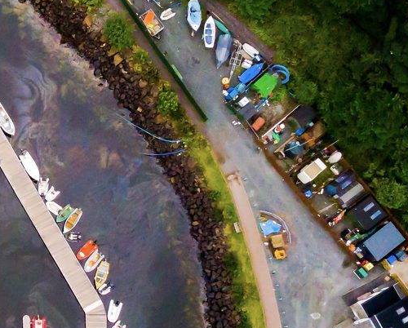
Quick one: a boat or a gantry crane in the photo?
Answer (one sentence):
The image shows a boat.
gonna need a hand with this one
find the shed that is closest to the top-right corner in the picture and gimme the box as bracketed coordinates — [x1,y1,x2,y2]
[285,107,317,130]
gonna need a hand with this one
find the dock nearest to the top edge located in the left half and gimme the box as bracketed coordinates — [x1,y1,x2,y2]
[0,126,105,314]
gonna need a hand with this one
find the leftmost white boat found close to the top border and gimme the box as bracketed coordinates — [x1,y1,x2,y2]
[160,7,177,20]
